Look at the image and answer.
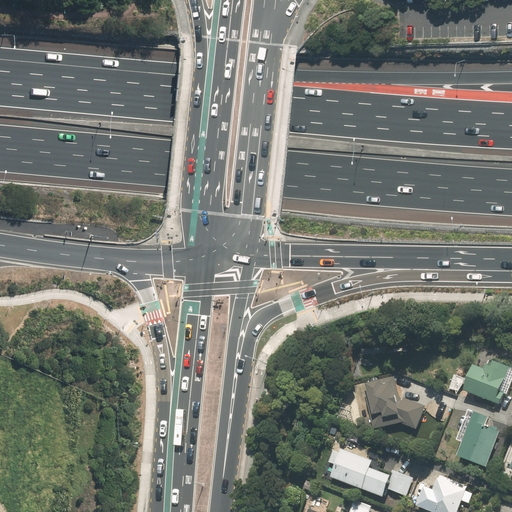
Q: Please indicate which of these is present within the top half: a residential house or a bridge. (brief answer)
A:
bridge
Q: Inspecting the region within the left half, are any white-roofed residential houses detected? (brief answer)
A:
No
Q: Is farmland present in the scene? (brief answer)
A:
No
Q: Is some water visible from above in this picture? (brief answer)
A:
No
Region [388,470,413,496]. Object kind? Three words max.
building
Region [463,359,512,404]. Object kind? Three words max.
house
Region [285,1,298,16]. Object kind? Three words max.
vehicle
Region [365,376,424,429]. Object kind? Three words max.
house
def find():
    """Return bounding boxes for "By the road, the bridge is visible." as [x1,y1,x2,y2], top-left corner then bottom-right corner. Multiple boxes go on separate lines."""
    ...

[165,35,298,220]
